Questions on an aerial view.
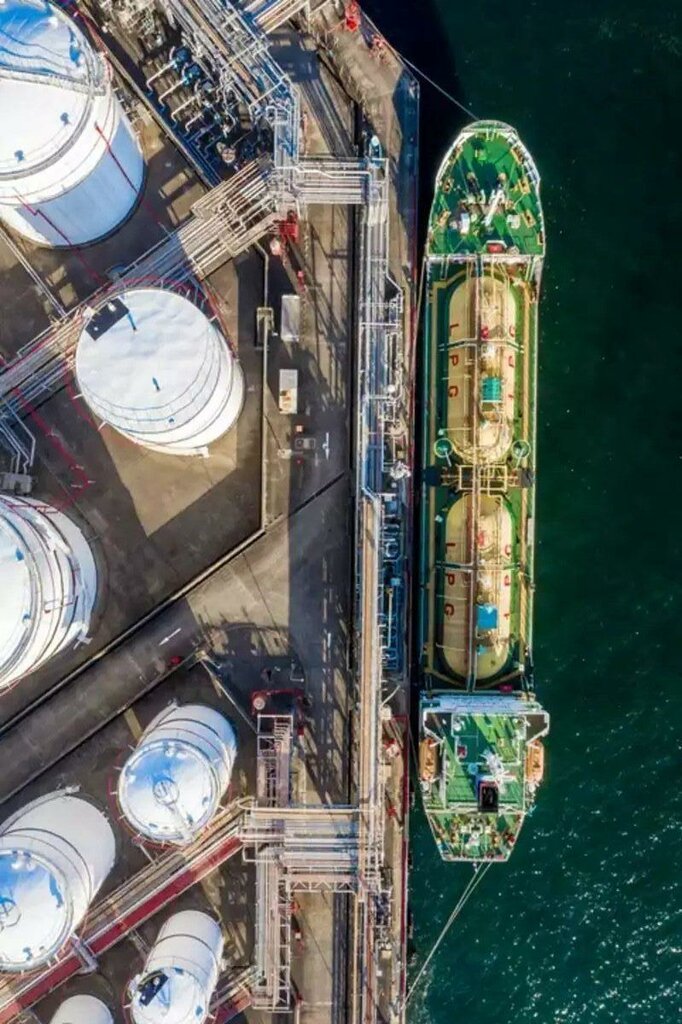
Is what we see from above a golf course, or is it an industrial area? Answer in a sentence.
This looks like an industrial area.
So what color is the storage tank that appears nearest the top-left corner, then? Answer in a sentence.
From above, the storage tank that appears nearest the top-left corner appears white.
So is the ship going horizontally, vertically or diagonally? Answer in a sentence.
From this overhead view, the ship appears to run vertically.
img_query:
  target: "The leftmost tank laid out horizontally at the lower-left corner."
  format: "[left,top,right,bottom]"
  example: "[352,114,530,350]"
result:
[50,994,117,1024]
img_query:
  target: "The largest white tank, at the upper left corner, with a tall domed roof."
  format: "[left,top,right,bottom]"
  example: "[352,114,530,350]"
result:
[0,0,186,286]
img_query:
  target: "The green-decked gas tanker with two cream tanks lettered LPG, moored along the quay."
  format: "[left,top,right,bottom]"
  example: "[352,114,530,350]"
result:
[415,119,550,865]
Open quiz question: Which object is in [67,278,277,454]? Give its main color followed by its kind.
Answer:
white storage tank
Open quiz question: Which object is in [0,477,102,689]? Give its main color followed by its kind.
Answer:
white storage tank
